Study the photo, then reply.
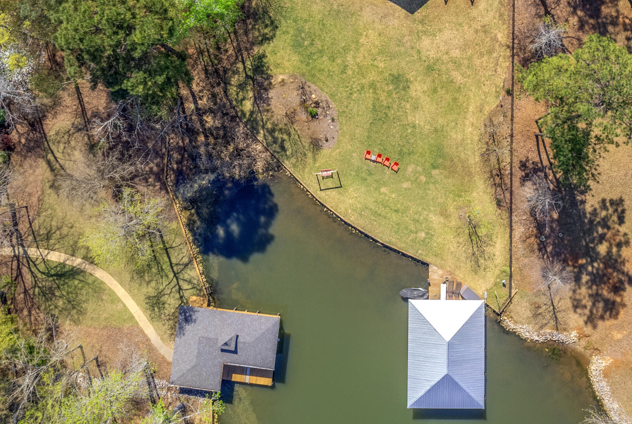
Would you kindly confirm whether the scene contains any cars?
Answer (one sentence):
No, the frame has no car in it.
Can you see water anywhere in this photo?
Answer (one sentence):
Yes, water shows up in the scene.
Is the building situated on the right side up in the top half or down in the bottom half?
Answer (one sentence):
You can find the building situated on the right side in the bottom half.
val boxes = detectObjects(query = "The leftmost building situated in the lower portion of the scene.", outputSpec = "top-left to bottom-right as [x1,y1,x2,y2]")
[169,296,282,392]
